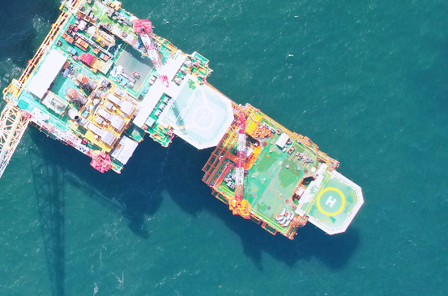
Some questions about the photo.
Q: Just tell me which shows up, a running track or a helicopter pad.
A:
helicopter pad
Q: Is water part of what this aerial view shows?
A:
Yes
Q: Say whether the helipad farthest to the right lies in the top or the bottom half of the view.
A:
bottom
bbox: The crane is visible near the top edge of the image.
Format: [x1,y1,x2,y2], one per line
[126,13,169,85]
